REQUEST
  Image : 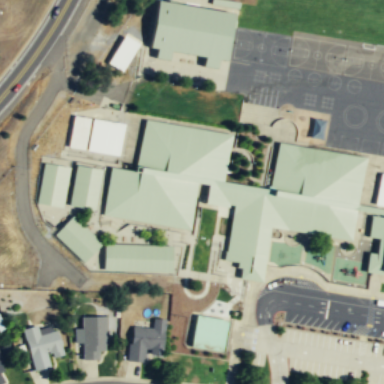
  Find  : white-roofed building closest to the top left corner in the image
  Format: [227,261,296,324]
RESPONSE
[110,33,142,72]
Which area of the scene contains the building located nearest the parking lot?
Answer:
bottom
